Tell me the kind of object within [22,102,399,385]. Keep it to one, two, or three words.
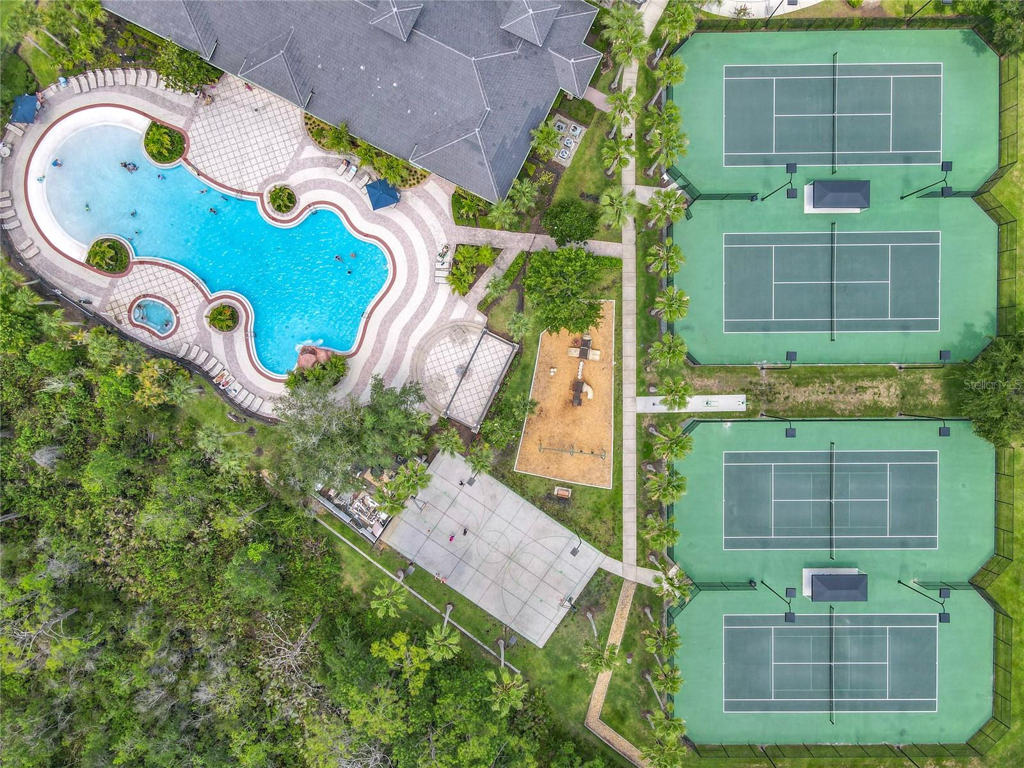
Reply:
swimming pool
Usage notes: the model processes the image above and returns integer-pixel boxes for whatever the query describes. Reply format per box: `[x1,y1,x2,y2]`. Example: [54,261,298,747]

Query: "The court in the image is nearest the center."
[380,450,599,648]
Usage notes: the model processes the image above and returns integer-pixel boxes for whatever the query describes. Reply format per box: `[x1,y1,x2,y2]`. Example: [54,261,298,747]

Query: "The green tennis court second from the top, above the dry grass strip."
[673,195,999,365]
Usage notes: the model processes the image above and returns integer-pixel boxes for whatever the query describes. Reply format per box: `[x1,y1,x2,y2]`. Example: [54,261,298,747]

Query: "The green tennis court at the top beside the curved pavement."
[673,30,999,197]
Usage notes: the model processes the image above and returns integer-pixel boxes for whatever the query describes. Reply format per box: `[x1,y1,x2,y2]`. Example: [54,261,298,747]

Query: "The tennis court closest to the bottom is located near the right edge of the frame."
[673,581,994,745]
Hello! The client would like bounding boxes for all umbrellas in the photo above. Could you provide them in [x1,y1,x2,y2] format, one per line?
[12,96,44,124]
[366,179,400,211]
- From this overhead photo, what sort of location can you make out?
sports ground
